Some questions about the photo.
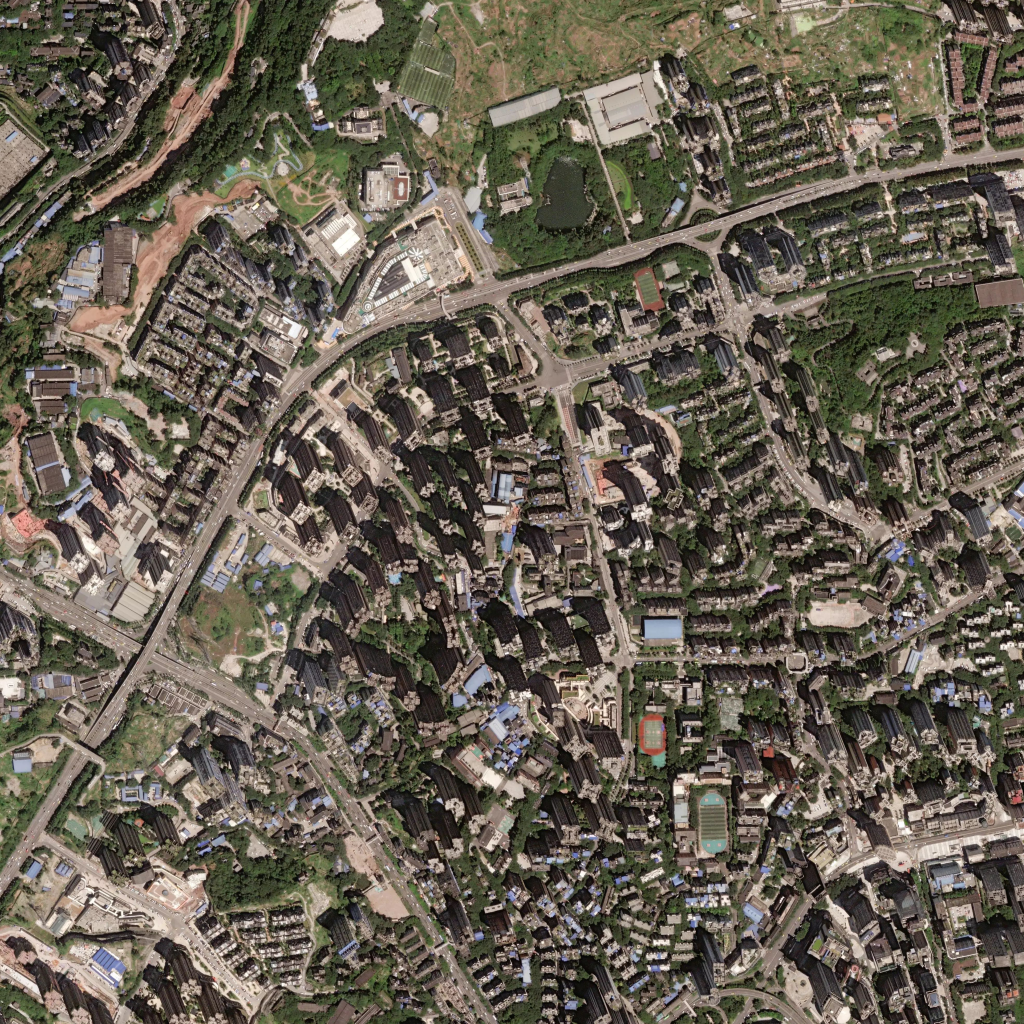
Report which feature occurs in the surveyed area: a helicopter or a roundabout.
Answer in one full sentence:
Of the two, only a roundabout appears.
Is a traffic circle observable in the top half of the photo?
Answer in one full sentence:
Yes, a traffic circle appears in the top half of the photo.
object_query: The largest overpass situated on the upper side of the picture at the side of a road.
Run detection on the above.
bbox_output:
[595,185,814,269]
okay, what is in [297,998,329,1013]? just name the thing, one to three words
house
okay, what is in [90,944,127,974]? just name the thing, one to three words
shed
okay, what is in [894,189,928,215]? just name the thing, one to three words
building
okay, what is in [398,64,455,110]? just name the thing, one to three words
soccer field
